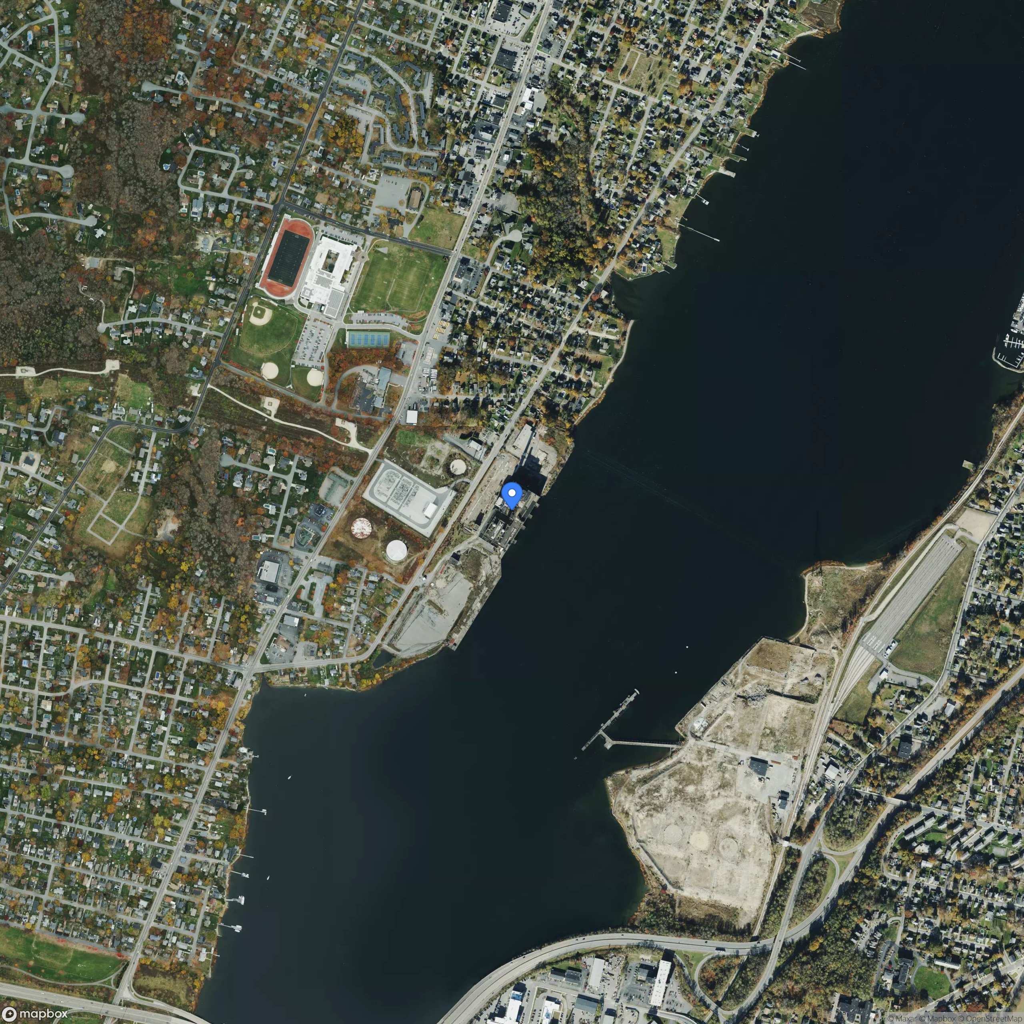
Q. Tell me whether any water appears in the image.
Yes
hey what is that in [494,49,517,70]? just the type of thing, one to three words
building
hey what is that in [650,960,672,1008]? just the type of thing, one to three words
building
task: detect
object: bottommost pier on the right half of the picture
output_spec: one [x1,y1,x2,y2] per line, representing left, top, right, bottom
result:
[582,693,681,750]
